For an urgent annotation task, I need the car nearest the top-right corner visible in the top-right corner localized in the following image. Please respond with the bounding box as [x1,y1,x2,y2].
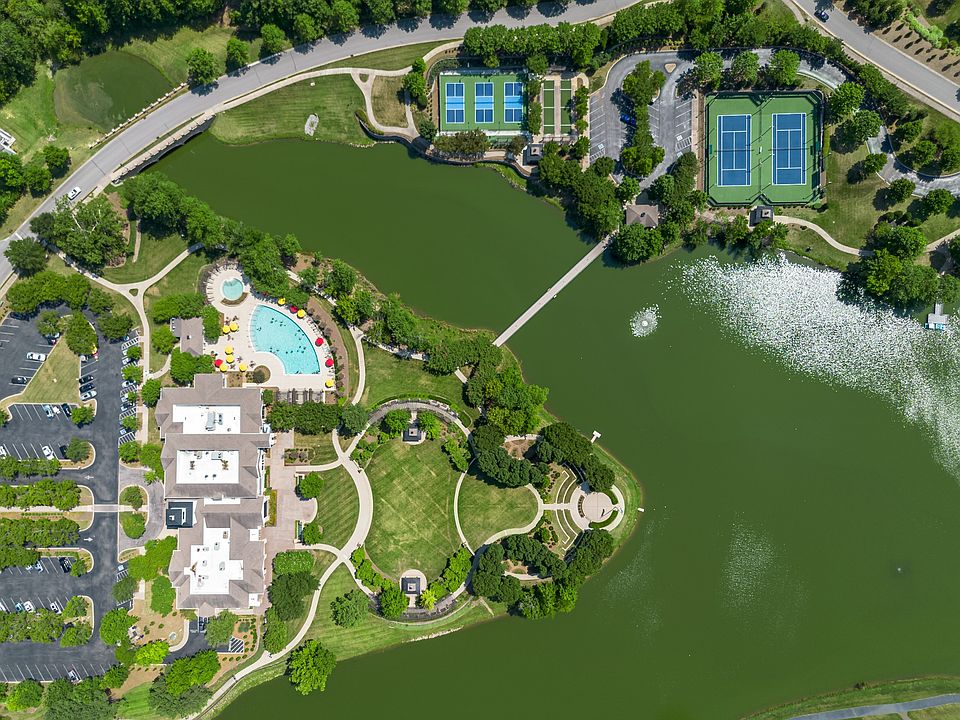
[815,8,828,22]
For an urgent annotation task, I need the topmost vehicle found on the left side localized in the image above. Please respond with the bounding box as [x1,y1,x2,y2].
[67,187,82,199]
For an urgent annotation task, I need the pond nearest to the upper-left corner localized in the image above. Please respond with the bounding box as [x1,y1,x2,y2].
[54,52,195,136]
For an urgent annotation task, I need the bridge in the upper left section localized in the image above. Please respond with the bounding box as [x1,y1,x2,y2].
[112,113,217,185]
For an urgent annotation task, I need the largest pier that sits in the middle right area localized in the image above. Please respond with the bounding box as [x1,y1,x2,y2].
[926,300,950,324]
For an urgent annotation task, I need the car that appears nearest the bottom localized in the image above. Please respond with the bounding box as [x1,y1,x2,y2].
[67,668,80,683]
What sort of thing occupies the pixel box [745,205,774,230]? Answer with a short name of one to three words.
building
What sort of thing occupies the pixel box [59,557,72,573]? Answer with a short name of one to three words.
vehicle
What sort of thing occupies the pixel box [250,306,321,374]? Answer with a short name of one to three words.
swimming pool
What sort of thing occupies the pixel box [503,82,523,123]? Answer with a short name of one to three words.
sports court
